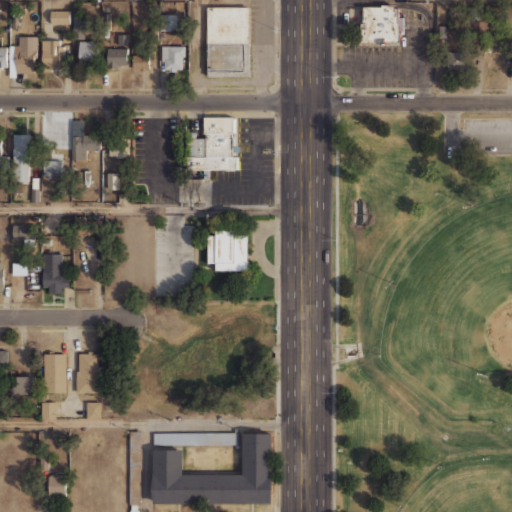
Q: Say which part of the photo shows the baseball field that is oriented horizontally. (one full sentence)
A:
The baseball field that is oriented horizontally is in the bottom right part of the image.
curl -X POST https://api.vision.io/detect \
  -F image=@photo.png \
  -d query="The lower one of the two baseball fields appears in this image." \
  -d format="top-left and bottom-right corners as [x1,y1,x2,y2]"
[398,458,512,512]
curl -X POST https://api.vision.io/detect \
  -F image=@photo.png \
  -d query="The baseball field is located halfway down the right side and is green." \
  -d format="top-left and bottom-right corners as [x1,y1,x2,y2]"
[380,195,512,426]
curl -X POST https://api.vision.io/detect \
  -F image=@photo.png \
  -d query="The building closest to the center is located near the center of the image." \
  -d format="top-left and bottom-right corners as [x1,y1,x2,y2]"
[208,229,248,272]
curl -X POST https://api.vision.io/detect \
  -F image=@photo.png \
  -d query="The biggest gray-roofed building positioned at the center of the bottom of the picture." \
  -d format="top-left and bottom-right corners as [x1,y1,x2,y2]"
[152,435,270,504]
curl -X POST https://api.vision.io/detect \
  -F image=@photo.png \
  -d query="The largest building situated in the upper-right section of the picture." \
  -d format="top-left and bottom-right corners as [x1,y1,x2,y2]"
[361,4,401,47]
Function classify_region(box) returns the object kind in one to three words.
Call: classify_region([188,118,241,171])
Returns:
building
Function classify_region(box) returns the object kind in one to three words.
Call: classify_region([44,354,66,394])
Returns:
house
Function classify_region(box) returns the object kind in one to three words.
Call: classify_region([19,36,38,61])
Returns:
house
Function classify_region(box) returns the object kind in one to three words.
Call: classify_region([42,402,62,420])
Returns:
building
